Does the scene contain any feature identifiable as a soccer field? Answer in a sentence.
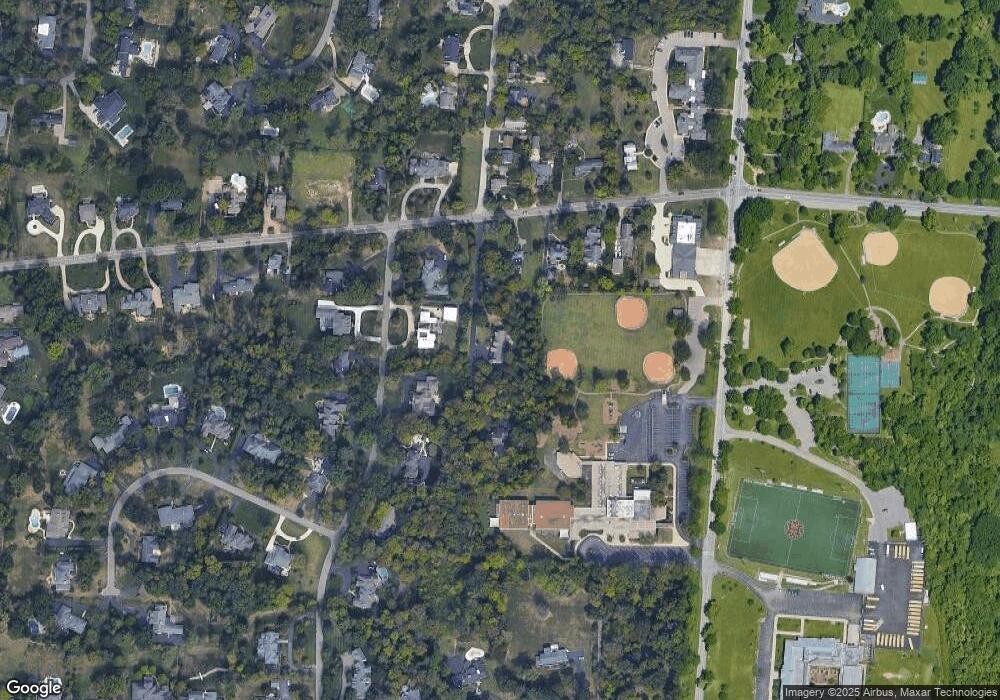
Yes, a soccer field can be made out from above.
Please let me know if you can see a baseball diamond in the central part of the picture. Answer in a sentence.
Yes, I can see a baseball diamond in the central part of the picture.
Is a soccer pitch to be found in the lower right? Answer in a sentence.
Yes, I can see a soccer pitch in the lower right.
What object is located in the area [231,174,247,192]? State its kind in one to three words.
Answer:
swimming pool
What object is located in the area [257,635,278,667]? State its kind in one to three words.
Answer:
house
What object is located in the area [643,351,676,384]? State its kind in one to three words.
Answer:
baseball field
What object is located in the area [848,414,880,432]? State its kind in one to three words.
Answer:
tennis court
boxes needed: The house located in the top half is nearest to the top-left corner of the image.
[37,16,57,56]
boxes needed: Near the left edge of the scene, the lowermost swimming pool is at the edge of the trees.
[28,617,45,635]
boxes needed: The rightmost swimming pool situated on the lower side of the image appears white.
[466,647,484,660]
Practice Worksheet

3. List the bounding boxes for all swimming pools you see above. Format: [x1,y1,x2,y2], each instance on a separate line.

[164,385,182,397]
[834,2,850,17]
[421,87,438,105]
[28,509,40,533]
[466,647,484,660]
[114,122,134,141]
[141,39,159,65]
[2,400,20,424]
[231,174,247,192]
[871,110,891,132]
[28,617,45,635]
[378,567,389,582]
